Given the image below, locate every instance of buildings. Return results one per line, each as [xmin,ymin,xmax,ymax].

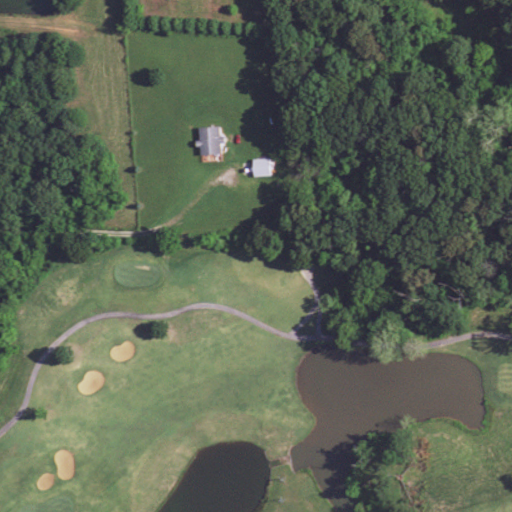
[195,126,227,162]
[252,158,274,178]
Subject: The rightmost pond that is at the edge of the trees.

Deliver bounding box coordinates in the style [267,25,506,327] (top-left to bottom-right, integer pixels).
[291,348,485,512]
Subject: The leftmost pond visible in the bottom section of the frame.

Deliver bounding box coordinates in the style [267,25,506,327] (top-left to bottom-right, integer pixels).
[160,441,272,512]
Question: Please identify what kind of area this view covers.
golf course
